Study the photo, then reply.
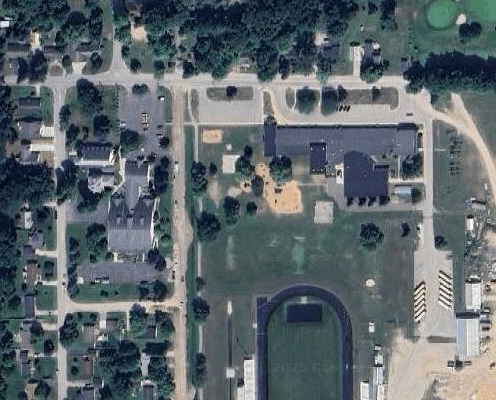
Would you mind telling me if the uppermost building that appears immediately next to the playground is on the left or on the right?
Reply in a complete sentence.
The uppermost building that appears immediately next to the playground appears in the right half of the scene.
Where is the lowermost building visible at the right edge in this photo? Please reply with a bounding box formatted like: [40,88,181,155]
[457,317,478,357]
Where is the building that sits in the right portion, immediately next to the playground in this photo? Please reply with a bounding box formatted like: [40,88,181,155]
[265,124,416,196]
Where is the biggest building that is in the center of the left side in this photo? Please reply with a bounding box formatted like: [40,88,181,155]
[107,158,154,248]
